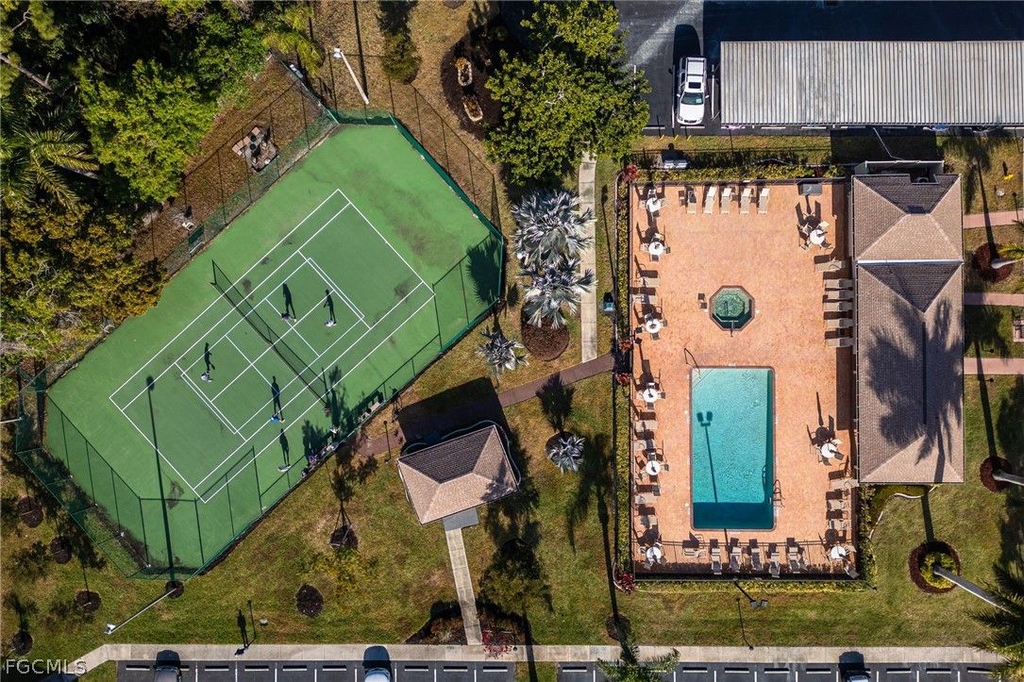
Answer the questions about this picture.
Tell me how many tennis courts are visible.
one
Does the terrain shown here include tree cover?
Yes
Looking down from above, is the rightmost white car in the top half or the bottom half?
top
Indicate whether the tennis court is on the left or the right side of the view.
left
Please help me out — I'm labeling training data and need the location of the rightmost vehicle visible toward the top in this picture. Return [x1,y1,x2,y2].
[677,59,710,124]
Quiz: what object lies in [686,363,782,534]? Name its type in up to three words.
swimming pool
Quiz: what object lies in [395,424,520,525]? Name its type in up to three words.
building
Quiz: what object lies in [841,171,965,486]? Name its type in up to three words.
building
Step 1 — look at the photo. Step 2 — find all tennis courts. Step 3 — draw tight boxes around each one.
[46,126,500,571]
